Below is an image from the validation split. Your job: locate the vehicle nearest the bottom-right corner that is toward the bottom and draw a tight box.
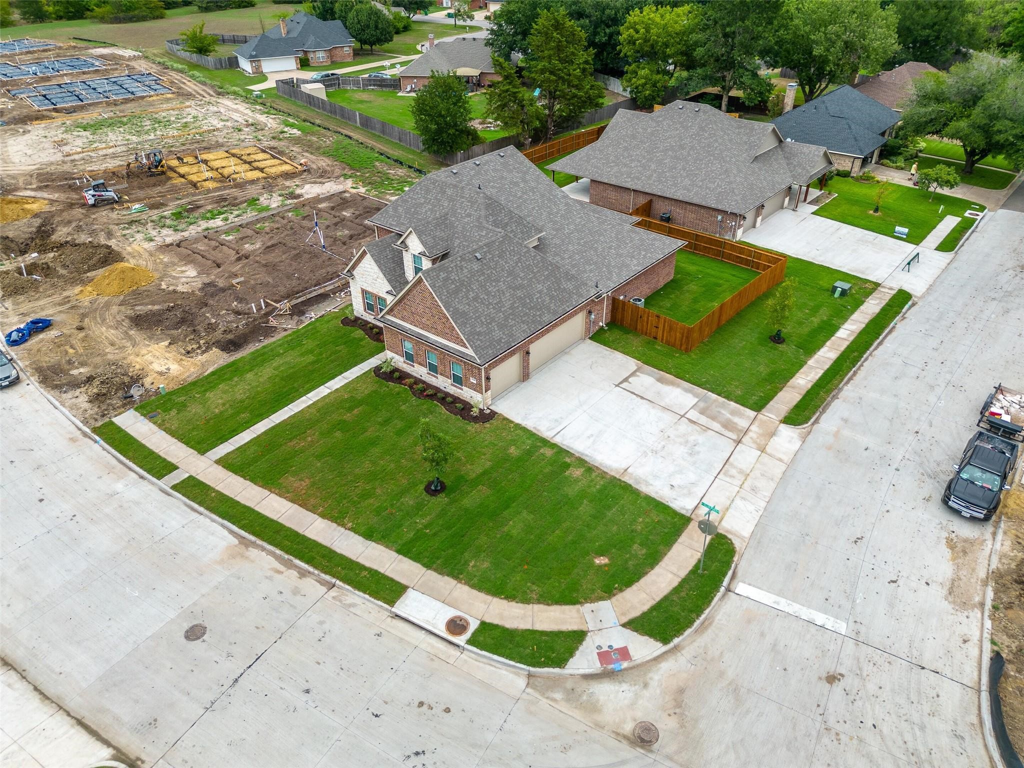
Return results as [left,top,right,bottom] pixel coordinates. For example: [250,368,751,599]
[941,430,1021,527]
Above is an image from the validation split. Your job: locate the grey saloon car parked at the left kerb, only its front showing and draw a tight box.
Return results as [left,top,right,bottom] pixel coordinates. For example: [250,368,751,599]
[0,344,22,388]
